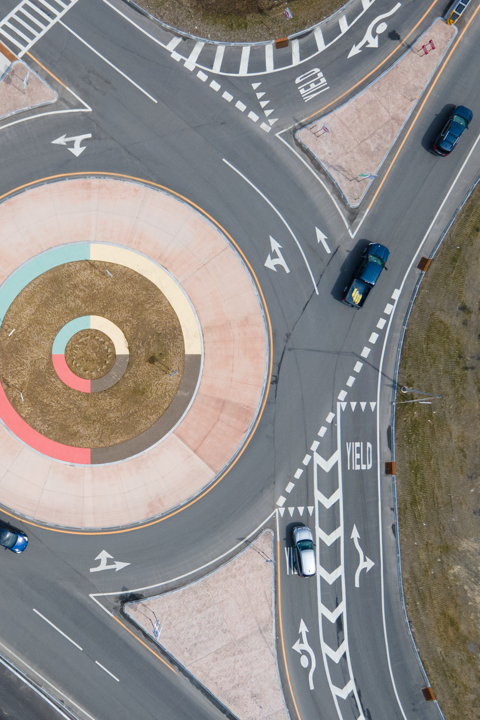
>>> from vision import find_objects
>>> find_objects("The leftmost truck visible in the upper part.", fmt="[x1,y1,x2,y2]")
[340,245,386,310]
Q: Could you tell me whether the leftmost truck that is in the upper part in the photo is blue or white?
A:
blue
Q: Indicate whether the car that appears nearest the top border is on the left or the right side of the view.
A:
right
